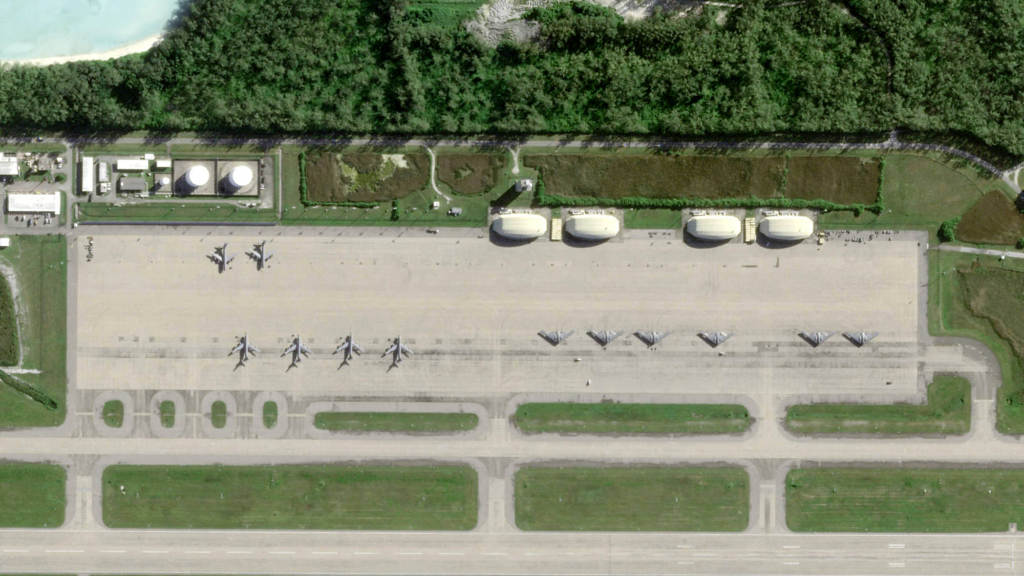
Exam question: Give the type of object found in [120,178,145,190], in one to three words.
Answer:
building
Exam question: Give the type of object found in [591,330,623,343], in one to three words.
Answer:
airplane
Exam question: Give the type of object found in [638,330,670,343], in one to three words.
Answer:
airplane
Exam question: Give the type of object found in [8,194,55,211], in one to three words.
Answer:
building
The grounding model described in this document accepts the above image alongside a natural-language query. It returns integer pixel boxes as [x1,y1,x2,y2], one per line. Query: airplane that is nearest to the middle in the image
[541,329,574,344]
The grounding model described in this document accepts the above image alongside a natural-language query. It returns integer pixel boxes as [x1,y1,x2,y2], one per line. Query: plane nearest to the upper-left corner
[212,242,238,271]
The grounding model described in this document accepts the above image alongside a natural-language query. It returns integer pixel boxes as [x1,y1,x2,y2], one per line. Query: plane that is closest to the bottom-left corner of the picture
[234,334,260,362]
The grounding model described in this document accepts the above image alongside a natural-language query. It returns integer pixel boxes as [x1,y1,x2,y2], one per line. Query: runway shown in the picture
[0,529,1024,575]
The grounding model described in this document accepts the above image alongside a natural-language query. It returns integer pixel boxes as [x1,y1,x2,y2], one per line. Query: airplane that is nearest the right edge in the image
[847,330,879,344]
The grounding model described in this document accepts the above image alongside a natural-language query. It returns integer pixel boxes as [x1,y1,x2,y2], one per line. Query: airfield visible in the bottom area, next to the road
[0,207,1024,576]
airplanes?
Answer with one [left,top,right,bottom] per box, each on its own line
[286,336,312,364]
[387,336,413,364]
[847,330,879,344]
[803,330,834,344]
[541,329,574,344]
[638,330,670,343]
[212,242,238,271]
[251,240,276,268]
[702,331,733,345]
[234,334,260,362]
[339,334,364,362]
[591,330,623,343]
